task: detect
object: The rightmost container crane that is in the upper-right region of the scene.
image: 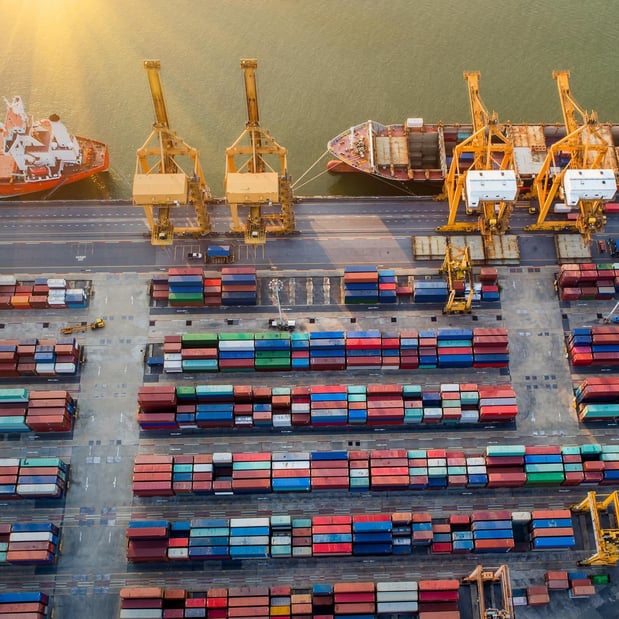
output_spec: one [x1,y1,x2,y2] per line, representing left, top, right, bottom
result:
[525,62,619,251]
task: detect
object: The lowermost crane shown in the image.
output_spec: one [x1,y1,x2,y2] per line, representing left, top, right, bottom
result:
[458,564,514,619]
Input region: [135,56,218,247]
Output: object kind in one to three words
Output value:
container crane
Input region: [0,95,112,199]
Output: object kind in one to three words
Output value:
ship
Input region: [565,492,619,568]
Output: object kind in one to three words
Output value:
container crane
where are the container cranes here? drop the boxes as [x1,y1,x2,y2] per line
[436,63,526,253]
[223,55,300,245]
[525,62,619,251]
[135,56,218,247]
[565,492,619,568]
[434,245,482,316]
[458,564,514,619]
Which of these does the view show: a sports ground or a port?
port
